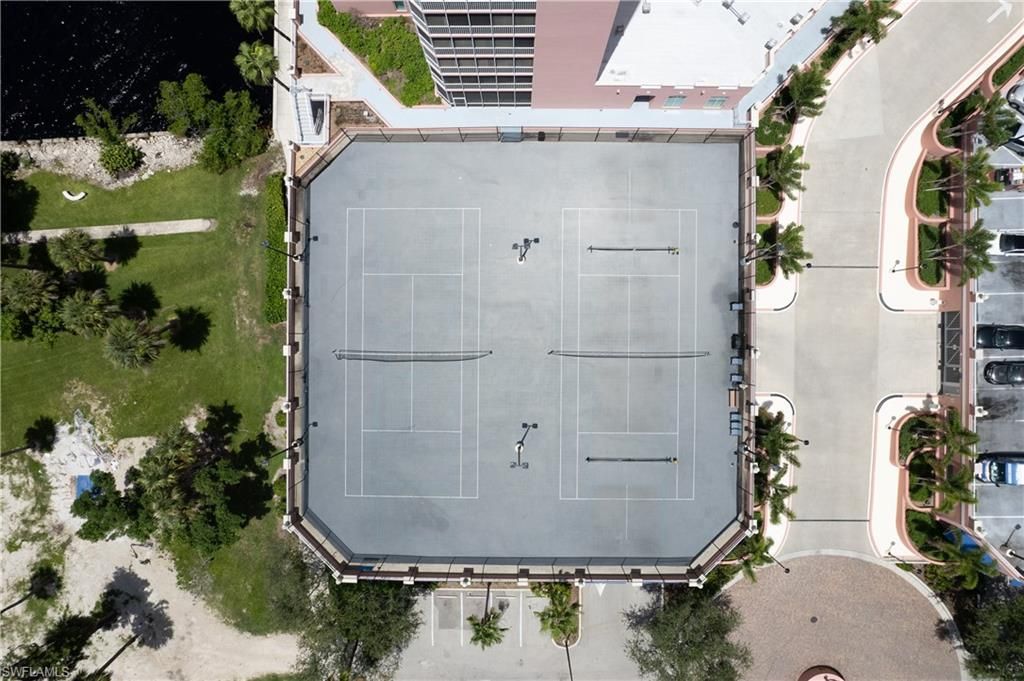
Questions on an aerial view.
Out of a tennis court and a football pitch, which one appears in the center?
tennis court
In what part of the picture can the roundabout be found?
bottom right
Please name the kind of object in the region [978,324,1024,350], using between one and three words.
car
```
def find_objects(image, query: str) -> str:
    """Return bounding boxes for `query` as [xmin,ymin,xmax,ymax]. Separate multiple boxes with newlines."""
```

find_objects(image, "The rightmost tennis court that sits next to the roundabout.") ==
[520,141,739,564]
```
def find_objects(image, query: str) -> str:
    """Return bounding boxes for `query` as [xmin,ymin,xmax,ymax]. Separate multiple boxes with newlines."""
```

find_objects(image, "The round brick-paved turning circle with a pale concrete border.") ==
[695,548,974,681]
